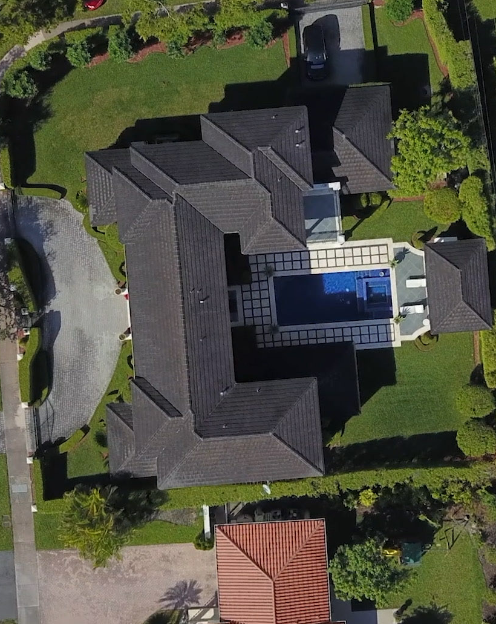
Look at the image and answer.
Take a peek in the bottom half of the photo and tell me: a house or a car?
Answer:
house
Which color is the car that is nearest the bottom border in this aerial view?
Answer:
black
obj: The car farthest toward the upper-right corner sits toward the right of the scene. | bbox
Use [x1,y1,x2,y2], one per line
[301,20,331,83]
